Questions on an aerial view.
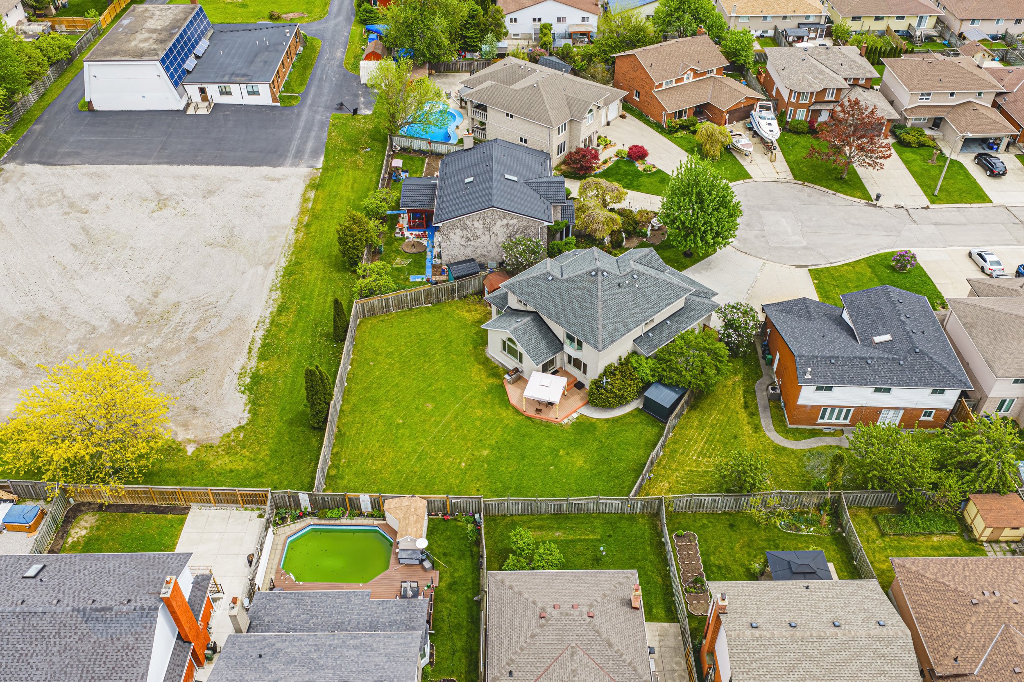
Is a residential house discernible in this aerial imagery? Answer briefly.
Yes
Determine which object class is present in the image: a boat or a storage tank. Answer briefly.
boat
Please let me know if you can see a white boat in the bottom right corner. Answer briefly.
No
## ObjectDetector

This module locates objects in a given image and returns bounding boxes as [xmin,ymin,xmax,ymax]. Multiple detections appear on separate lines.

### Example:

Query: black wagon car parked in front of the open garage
[975,153,1010,175]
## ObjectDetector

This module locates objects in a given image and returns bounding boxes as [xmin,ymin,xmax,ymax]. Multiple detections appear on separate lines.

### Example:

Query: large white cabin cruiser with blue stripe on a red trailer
[751,97,780,155]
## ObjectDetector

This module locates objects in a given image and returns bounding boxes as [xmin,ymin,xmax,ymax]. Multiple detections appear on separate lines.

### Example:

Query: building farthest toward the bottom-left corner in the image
[0,552,230,682]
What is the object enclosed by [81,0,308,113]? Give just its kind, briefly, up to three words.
building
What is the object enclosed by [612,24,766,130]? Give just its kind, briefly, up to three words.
house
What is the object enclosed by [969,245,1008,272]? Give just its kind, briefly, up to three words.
car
